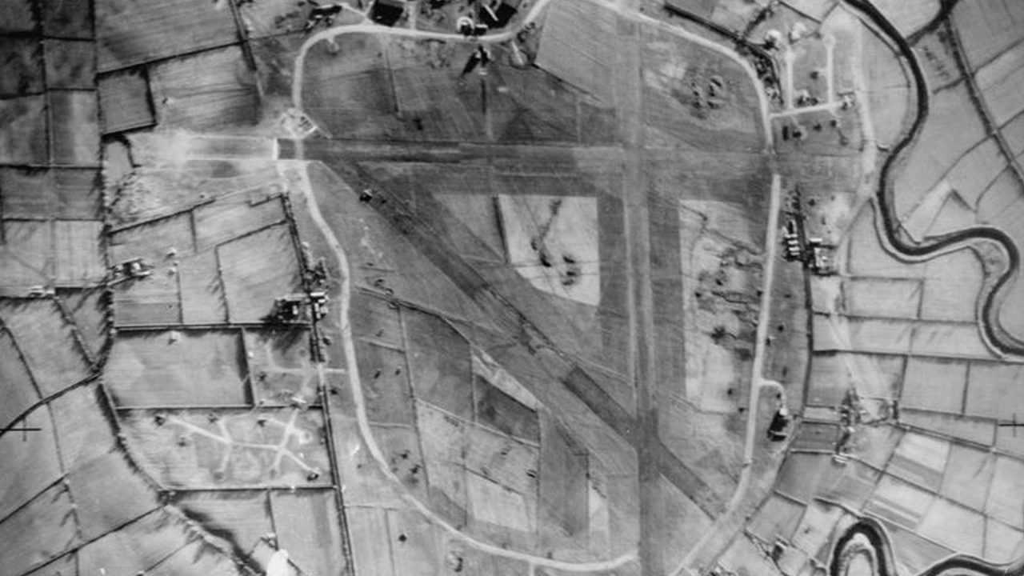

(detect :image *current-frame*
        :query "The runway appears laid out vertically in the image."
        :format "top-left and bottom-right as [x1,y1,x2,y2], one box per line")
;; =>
[615,15,663,576]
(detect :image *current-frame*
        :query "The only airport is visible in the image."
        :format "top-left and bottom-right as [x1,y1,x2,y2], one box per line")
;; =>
[169,0,852,576]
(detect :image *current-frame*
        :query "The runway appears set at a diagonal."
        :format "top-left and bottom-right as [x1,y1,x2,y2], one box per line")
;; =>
[322,145,725,520]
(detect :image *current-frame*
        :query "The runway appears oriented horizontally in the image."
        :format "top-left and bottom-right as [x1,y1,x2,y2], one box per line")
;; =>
[279,139,771,172]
